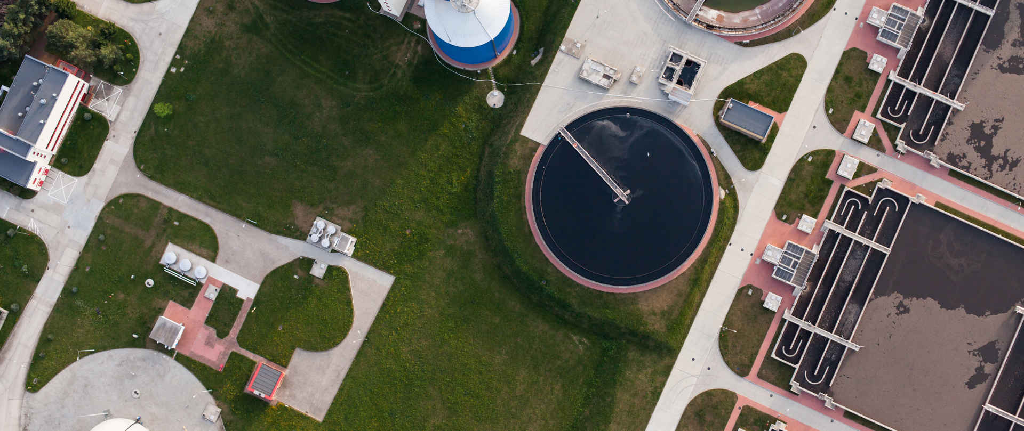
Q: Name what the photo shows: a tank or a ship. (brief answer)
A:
tank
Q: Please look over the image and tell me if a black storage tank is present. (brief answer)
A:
Yes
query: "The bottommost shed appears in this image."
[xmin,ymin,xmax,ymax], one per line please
[248,363,286,401]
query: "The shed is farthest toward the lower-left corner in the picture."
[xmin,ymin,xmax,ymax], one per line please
[150,315,189,350]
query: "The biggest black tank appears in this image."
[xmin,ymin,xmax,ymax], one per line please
[532,107,714,286]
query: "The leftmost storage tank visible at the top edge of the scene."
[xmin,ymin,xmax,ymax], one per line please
[427,0,514,63]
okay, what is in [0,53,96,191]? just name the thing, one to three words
building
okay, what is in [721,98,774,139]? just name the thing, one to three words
building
